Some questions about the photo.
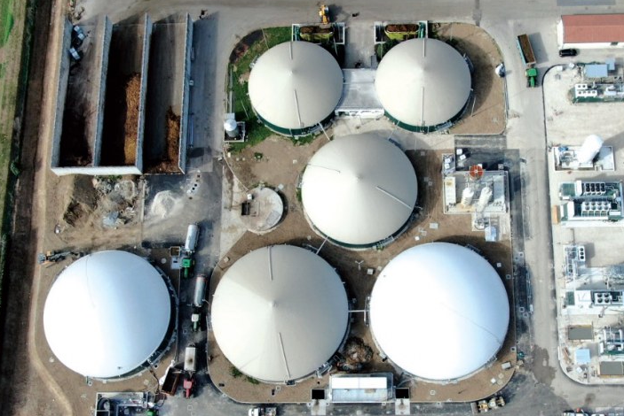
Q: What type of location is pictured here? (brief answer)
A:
industrial area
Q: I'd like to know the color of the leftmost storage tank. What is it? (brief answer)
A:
white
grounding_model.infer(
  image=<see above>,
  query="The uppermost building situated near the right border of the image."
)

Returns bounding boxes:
[558,14,624,51]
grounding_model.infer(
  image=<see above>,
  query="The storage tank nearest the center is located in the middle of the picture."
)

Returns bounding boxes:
[296,133,423,252]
